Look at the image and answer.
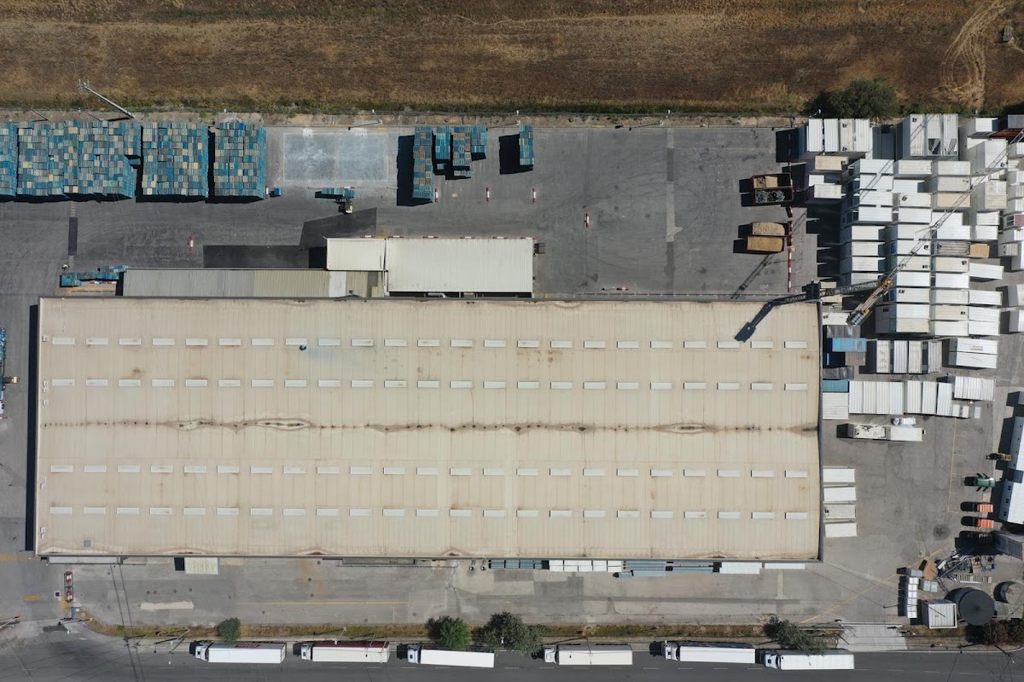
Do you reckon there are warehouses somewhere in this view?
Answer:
Yes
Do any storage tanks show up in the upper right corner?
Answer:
No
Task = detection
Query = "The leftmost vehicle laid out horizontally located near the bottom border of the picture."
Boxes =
[196,642,286,664]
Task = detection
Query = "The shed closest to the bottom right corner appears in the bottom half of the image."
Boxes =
[994,532,1024,563]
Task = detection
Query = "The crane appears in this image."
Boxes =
[809,126,1024,338]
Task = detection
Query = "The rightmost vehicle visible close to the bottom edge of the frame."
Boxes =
[756,648,854,670]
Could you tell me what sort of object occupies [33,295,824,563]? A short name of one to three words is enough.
warehouse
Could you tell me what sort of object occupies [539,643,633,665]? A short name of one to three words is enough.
truck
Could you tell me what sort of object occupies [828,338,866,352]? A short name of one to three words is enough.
building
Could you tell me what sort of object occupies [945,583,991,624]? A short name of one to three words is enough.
storage tank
